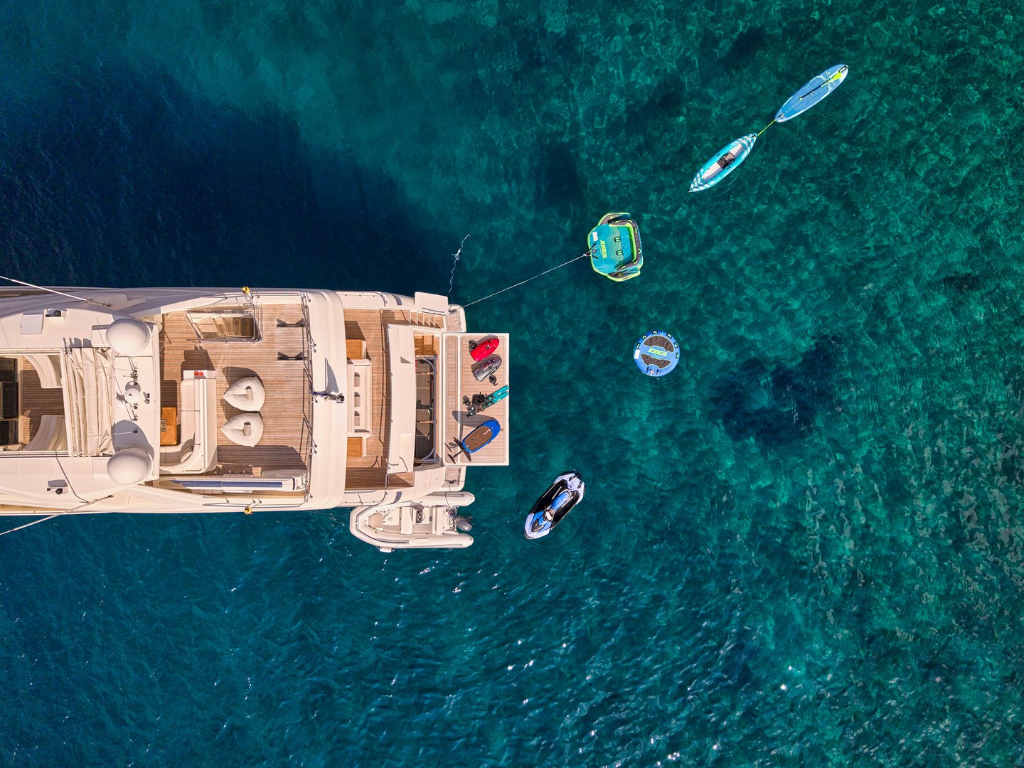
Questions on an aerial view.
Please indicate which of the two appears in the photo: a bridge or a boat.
boat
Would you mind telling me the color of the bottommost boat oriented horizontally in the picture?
white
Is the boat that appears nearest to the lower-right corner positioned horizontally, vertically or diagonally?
diagonally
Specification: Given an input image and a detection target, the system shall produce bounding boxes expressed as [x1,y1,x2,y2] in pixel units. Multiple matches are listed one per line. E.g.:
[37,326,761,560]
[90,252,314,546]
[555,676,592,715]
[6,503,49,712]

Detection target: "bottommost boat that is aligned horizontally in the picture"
[349,491,472,549]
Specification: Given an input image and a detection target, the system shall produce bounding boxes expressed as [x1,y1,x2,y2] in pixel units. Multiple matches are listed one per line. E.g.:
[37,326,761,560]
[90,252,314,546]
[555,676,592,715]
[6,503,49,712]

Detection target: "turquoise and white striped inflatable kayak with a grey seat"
[689,133,757,193]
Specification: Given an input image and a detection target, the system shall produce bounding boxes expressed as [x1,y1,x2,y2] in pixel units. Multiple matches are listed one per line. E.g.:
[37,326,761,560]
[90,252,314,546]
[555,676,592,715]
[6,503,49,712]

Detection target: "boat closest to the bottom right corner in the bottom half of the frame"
[524,469,585,539]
